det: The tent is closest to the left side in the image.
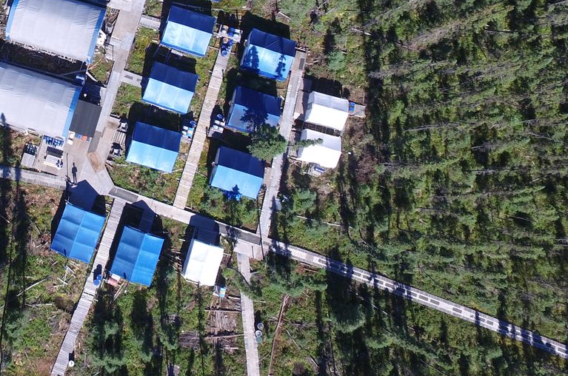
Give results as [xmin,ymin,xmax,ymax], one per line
[51,202,104,265]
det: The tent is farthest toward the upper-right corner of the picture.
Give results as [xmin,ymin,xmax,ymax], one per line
[303,91,349,132]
